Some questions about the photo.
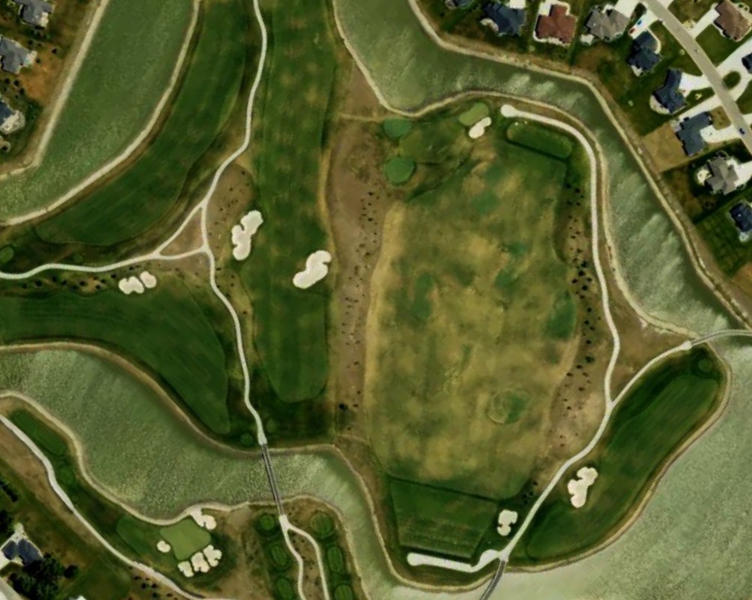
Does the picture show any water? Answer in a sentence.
Yes, water shows up in the scene.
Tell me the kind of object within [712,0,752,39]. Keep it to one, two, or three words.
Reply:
house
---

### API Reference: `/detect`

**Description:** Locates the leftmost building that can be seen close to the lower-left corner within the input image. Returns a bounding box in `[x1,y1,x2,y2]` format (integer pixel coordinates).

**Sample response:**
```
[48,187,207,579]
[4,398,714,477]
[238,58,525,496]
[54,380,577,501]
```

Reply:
[0,534,45,567]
